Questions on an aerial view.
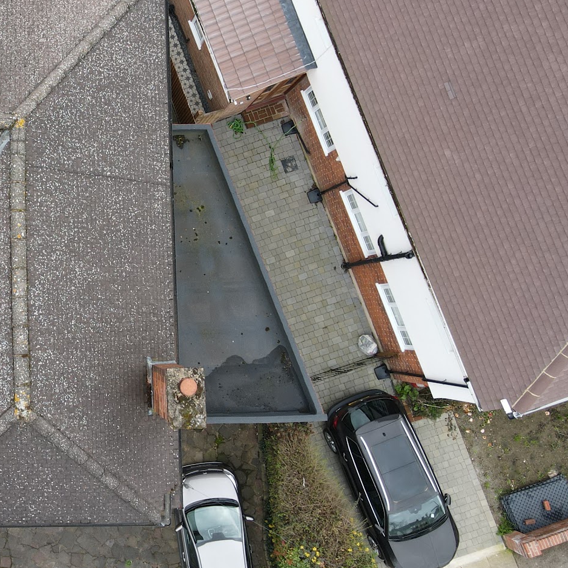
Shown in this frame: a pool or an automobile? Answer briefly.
automobile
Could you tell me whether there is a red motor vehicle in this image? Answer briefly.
No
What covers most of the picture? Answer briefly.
buildings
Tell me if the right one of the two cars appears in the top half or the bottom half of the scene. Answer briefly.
bottom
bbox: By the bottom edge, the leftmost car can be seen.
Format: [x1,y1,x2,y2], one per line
[181,459,265,568]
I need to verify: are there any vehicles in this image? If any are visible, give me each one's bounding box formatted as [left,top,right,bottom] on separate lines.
[181,459,265,568]
[320,378,464,568]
